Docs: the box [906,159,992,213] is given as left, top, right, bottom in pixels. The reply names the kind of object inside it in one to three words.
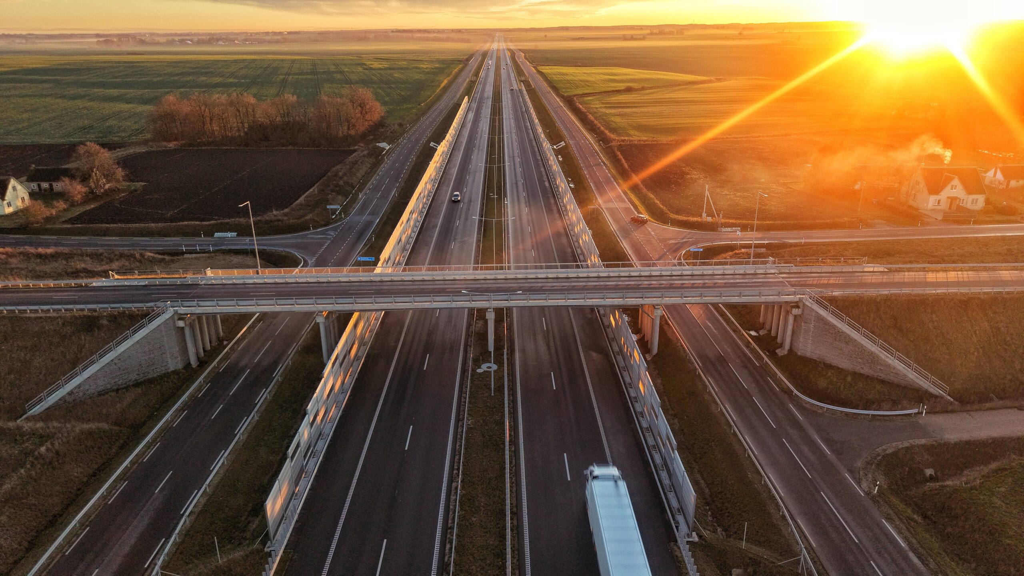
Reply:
house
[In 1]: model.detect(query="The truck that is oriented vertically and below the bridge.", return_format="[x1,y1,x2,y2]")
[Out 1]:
[583,461,650,576]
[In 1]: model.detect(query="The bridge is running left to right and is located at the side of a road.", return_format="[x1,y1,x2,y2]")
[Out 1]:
[176,264,806,366]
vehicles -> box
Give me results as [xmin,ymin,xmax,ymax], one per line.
[583,461,650,576]
[629,212,650,222]
[451,192,461,201]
